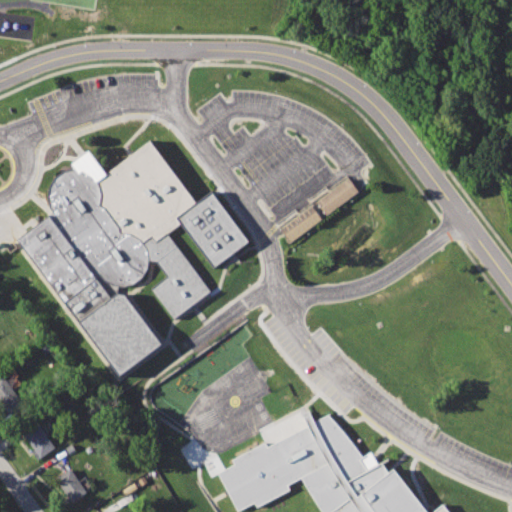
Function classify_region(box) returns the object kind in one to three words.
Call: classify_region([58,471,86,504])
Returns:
house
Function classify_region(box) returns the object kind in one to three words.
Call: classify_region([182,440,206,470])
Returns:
building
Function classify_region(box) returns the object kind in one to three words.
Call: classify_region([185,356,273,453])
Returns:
sports court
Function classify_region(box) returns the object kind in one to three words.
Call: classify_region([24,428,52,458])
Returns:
house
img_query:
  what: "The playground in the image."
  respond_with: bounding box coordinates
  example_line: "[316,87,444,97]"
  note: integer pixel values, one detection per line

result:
[154,325,252,414]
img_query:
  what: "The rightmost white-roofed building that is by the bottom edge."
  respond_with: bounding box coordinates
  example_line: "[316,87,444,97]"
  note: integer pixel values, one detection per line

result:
[218,406,448,512]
